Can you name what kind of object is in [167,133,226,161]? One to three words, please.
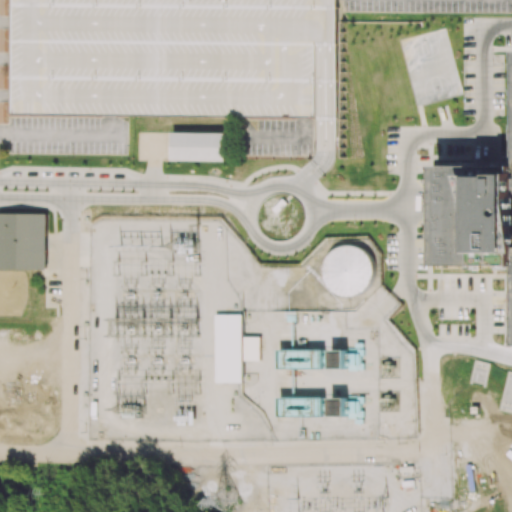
building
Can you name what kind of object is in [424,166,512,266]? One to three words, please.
building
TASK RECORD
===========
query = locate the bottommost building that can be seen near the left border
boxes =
[0,214,50,270]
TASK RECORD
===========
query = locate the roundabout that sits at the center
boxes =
[245,178,320,256]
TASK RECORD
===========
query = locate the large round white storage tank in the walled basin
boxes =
[324,244,378,298]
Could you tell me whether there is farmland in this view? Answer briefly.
No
